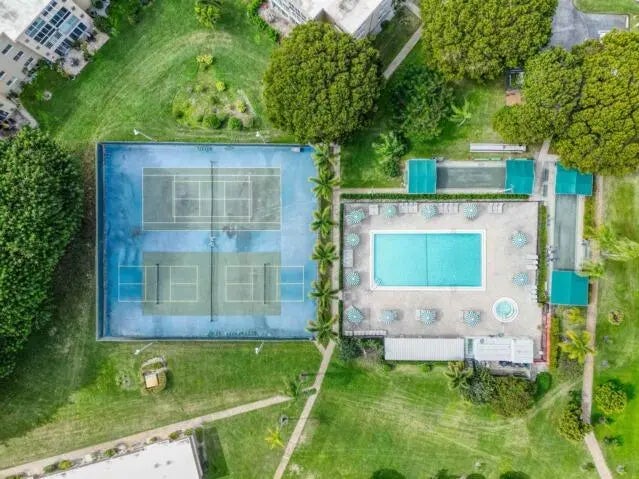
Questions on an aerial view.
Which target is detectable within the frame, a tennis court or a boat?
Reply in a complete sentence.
It is a tennis court that can be seen here.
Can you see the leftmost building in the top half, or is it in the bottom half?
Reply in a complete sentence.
The top half of the photo is where the leftmost building is.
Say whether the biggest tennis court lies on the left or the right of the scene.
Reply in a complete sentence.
The biggest tennis court appears in the left half of the scene.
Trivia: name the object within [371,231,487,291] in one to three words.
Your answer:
swimming pool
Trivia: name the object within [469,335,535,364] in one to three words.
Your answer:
building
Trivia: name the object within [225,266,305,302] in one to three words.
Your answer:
sports court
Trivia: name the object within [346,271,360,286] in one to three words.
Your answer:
umbrella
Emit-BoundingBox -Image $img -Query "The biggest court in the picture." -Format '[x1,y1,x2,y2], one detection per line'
[104,145,318,339]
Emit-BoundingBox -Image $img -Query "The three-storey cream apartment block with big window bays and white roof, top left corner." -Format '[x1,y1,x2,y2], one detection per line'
[0,0,94,122]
